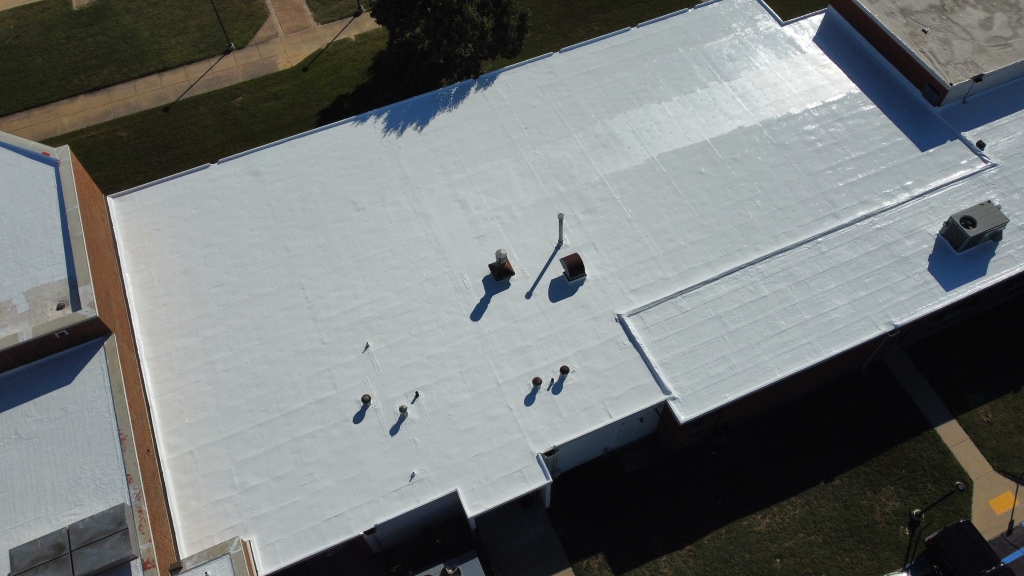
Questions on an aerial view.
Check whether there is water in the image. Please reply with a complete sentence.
No, no water is visible.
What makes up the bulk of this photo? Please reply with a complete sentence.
What you mostly see from above here is buildings.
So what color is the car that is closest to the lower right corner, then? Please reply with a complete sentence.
The color of the car that is closest to the lower right corner is black.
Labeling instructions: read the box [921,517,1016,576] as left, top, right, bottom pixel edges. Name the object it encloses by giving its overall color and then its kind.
black car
